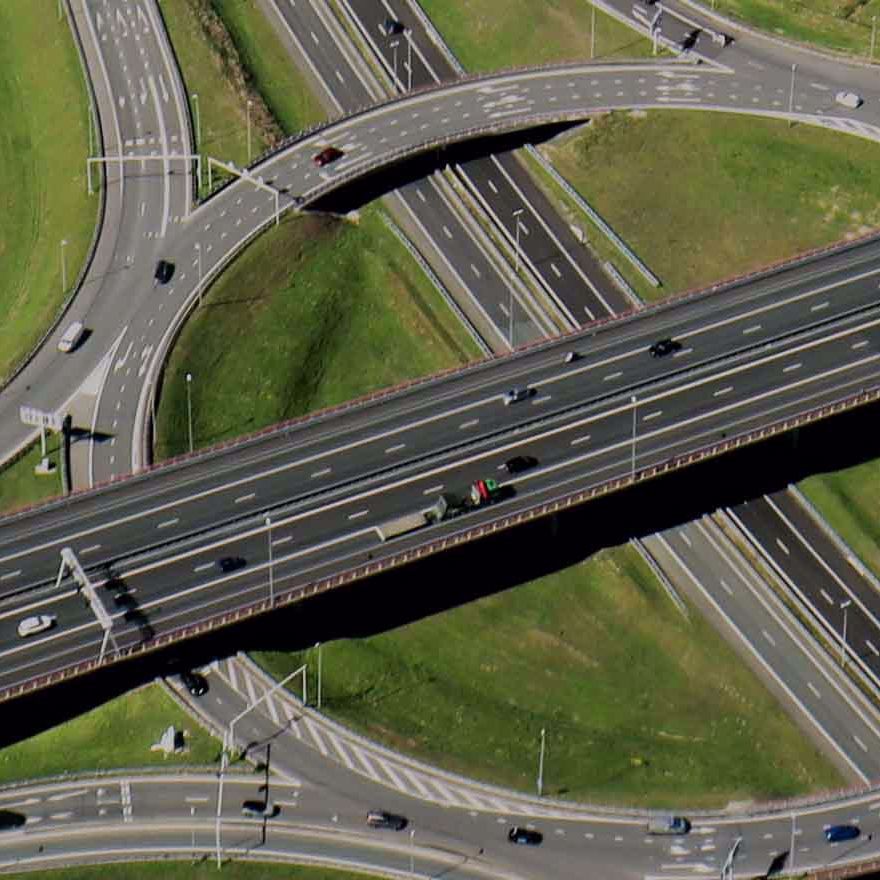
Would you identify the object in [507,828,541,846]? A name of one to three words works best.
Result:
car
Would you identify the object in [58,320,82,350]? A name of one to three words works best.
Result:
vehicle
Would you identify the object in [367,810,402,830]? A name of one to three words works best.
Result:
car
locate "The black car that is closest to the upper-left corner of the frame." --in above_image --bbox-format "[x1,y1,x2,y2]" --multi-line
[156,263,173,284]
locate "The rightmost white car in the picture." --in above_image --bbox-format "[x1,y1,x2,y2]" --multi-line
[834,94,861,108]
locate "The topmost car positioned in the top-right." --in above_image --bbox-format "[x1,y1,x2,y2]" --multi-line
[711,33,733,48]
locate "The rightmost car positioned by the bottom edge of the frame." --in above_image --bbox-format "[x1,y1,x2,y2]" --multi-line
[822,825,858,843]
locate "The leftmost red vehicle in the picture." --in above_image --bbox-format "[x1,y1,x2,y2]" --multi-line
[312,150,339,166]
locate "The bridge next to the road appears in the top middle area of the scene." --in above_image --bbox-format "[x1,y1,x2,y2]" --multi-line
[195,55,672,217]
